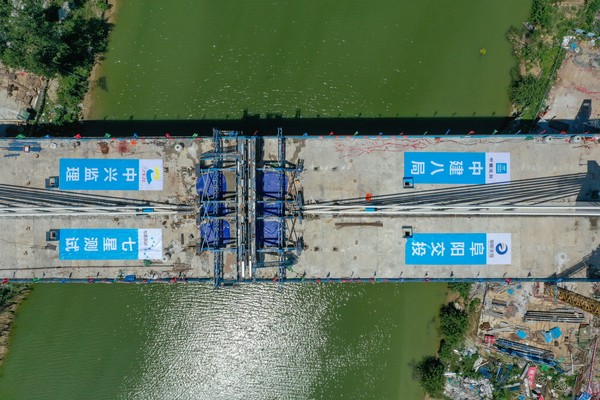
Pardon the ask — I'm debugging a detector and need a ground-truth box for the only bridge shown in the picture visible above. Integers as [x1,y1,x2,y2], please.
[0,134,600,282]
